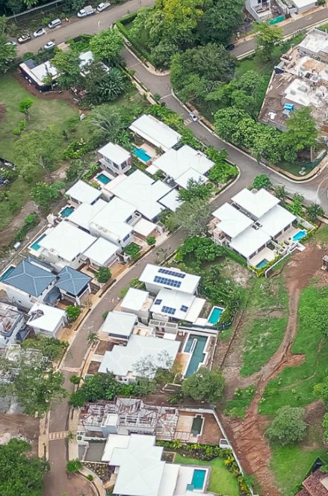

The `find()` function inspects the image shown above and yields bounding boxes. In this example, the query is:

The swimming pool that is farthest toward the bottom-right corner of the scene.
[190,467,208,492]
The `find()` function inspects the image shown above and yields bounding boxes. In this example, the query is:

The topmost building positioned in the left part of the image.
[19,53,110,96]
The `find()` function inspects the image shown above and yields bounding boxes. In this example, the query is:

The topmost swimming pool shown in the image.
[132,146,153,163]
